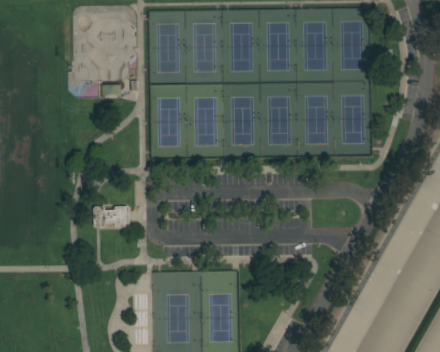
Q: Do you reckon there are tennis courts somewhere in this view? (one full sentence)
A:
Yes, a tennis court can be made out from above.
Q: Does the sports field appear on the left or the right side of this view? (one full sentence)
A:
The sports field is on the left side of the image.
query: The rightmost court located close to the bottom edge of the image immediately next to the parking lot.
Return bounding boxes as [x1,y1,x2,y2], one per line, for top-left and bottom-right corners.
[202,272,239,352]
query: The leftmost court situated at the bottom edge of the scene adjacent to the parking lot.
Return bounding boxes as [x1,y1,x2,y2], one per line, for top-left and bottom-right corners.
[153,272,202,352]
